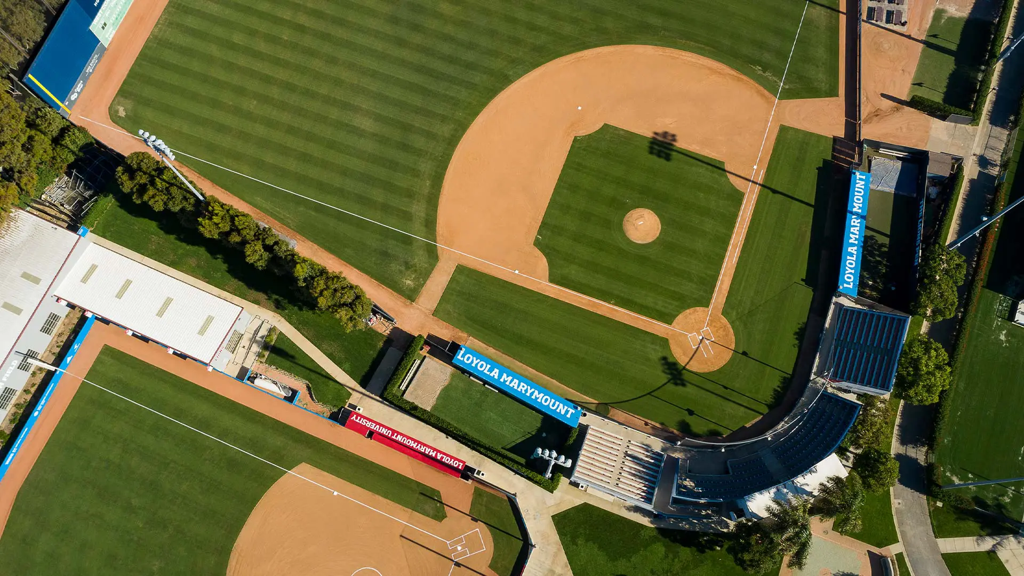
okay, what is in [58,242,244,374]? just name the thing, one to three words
building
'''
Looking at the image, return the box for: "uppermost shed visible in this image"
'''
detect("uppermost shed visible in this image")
[920,152,952,183]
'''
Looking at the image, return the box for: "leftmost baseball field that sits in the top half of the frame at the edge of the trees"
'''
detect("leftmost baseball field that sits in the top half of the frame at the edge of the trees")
[67,0,860,447]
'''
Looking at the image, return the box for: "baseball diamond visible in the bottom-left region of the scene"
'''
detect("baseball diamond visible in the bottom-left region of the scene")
[0,322,533,576]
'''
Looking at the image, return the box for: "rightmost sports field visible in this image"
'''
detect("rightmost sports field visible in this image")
[940,126,1024,522]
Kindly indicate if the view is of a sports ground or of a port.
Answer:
sports ground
